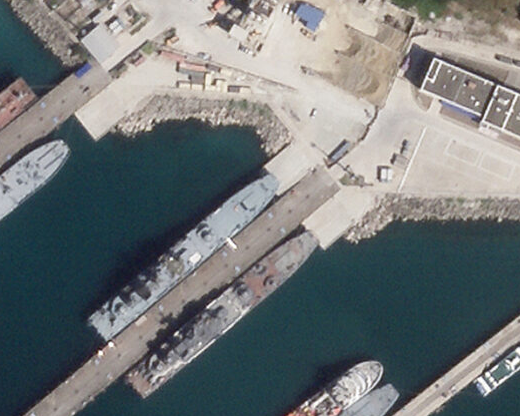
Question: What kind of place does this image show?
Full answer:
It's a port.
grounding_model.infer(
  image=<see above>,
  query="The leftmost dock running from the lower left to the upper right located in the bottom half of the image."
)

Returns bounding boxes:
[25,165,340,416]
